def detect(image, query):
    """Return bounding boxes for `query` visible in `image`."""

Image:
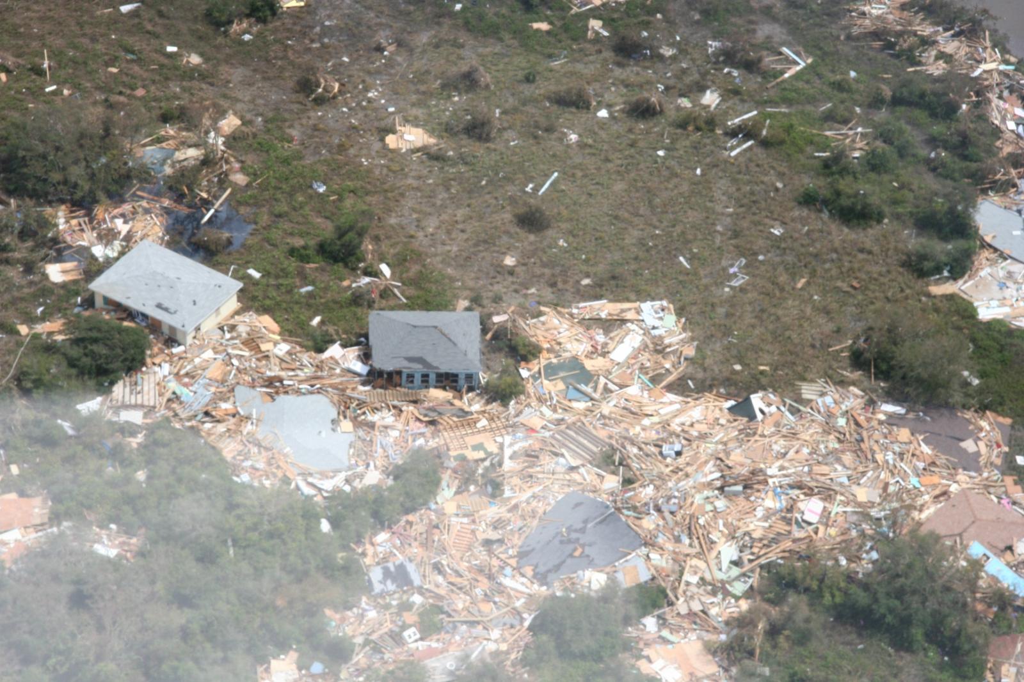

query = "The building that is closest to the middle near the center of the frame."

[366,311,481,391]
